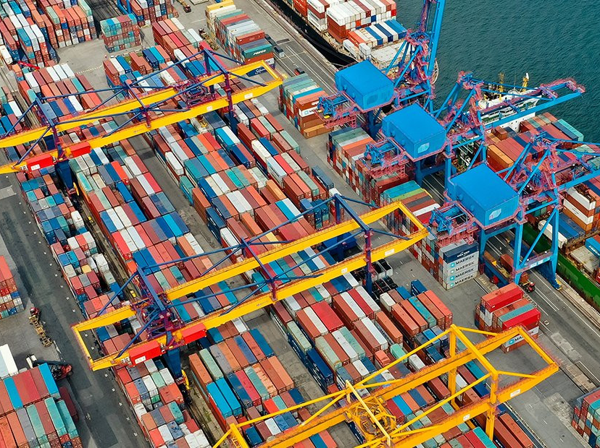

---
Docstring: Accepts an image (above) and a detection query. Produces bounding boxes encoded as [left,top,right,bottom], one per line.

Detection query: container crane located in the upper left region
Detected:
[0,48,286,193]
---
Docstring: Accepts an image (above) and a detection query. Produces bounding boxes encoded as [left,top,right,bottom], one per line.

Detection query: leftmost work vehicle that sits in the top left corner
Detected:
[15,52,43,69]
